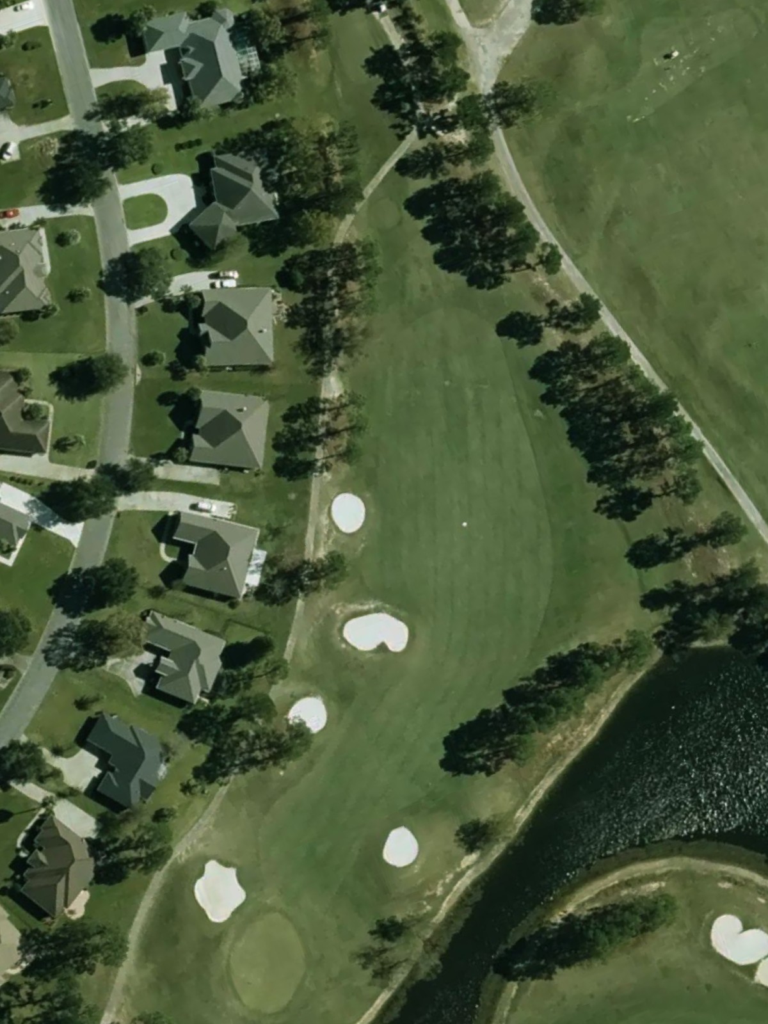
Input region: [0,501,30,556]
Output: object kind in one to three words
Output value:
house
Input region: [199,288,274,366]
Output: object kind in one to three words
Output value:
house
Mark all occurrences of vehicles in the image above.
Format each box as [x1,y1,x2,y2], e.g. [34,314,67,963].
[216,279,236,288]
[378,4,387,14]
[0,209,19,219]
[0,141,17,160]
[668,50,679,58]
[220,271,239,279]
[17,1,36,12]
[197,502,217,512]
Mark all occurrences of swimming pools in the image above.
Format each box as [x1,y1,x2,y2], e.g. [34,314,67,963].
[233,32,255,54]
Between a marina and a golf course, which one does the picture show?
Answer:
golf course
